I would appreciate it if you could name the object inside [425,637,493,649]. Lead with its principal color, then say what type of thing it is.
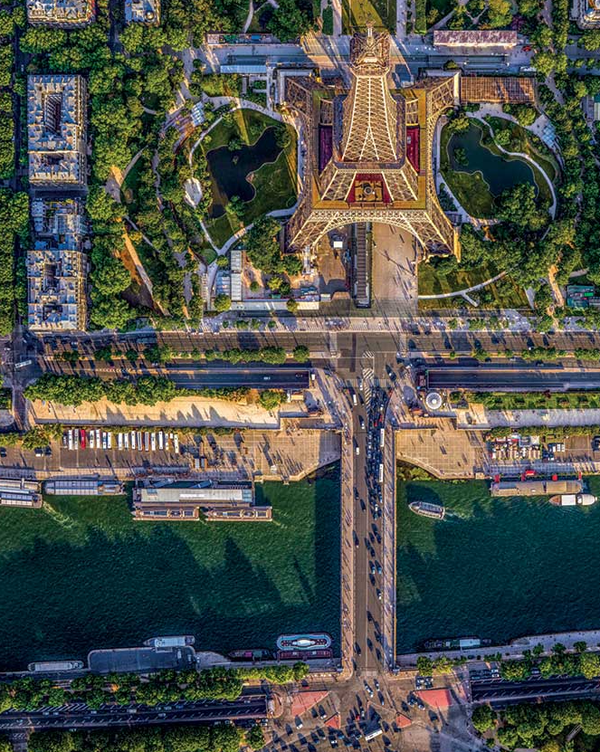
blue ship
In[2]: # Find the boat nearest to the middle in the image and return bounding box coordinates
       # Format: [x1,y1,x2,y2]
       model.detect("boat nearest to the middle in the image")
[206,508,272,520]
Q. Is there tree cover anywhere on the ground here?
Yes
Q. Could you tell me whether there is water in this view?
Yes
